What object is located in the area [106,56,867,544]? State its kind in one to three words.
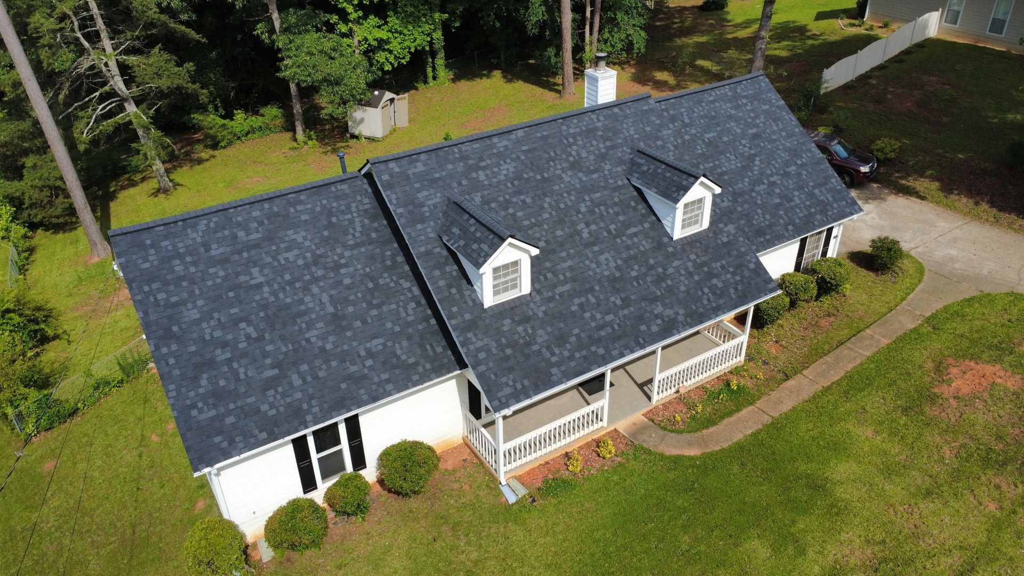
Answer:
house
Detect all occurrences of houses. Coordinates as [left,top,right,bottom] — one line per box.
[867,0,1024,55]
[106,56,867,544]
